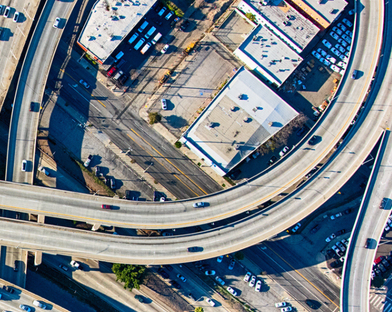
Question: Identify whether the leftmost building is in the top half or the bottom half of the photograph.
top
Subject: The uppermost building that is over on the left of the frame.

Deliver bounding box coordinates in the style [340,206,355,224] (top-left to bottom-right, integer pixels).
[74,0,156,65]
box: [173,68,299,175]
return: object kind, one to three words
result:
building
